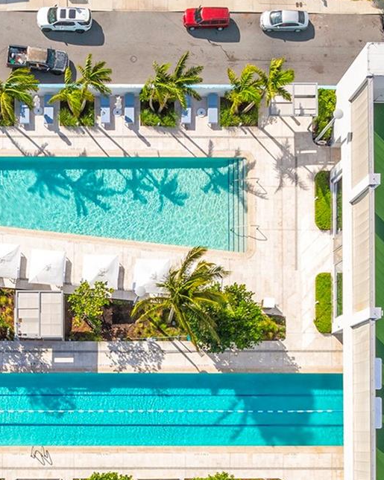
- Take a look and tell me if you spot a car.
Yes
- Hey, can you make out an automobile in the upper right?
Yes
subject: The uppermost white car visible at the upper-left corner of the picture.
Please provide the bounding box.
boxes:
[37,5,92,34]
